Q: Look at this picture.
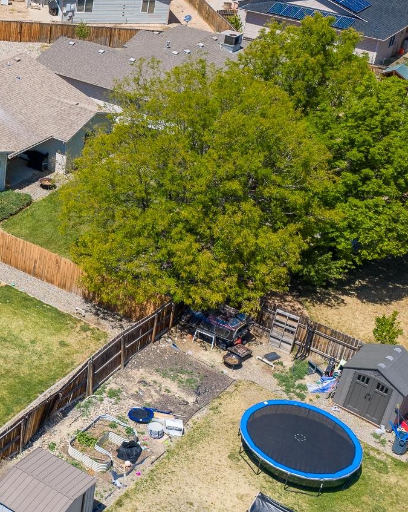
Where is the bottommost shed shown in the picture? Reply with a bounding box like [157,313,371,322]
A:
[0,446,94,512]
